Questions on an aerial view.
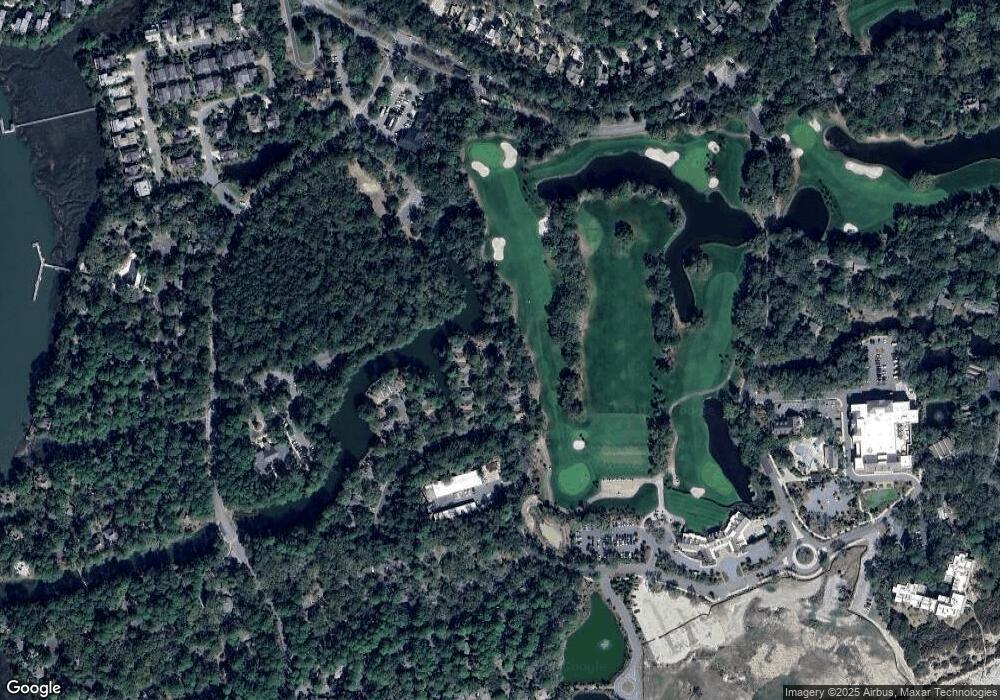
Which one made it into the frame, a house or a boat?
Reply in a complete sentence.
Visible in the photo is a house.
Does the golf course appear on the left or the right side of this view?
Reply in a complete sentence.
The golf course is on the right side of the image.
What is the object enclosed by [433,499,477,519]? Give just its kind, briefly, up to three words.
building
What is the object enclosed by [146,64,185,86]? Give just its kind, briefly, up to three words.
house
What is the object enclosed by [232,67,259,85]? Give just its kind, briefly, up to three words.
house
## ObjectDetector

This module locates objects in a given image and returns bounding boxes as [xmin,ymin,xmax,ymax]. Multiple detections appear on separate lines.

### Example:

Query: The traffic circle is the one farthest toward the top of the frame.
[785,536,820,571]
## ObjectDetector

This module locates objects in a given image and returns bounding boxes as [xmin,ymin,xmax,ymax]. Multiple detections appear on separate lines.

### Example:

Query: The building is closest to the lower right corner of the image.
[892,552,975,620]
